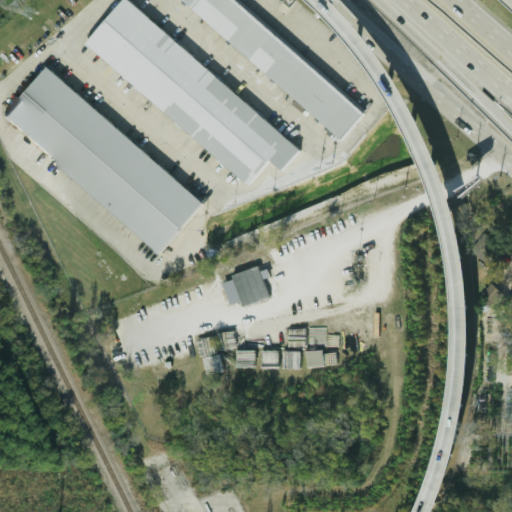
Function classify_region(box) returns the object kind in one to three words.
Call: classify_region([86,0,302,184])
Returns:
building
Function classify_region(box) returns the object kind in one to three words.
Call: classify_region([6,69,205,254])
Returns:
building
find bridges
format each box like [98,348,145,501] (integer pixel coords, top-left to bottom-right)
[304,0,466,512]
